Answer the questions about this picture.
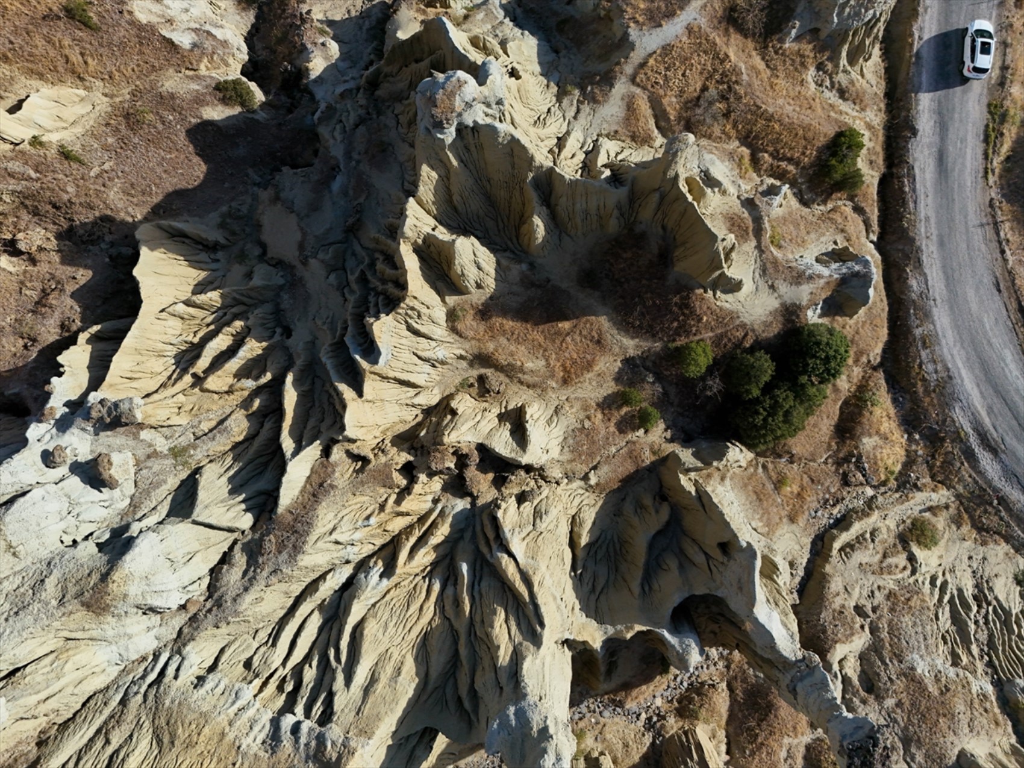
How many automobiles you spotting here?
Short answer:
one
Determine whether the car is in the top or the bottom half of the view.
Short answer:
top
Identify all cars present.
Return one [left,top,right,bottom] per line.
[958,16,998,78]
